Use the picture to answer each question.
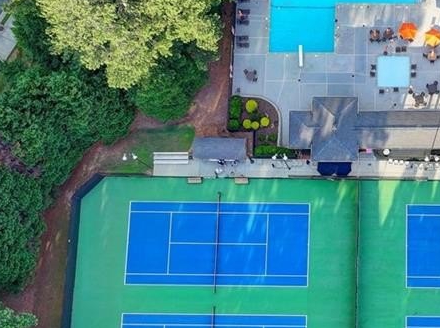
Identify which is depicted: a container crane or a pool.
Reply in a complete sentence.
I can see a pool in this picture.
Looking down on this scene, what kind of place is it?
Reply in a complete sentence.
The picture captures a sports ground.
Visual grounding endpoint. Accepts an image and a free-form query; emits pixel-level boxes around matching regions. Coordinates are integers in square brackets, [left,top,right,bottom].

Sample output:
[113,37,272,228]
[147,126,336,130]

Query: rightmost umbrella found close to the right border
[426,30,440,45]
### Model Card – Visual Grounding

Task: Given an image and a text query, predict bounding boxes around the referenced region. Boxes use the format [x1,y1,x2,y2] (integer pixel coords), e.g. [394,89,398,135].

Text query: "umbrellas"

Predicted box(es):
[426,30,440,45]
[400,23,417,40]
